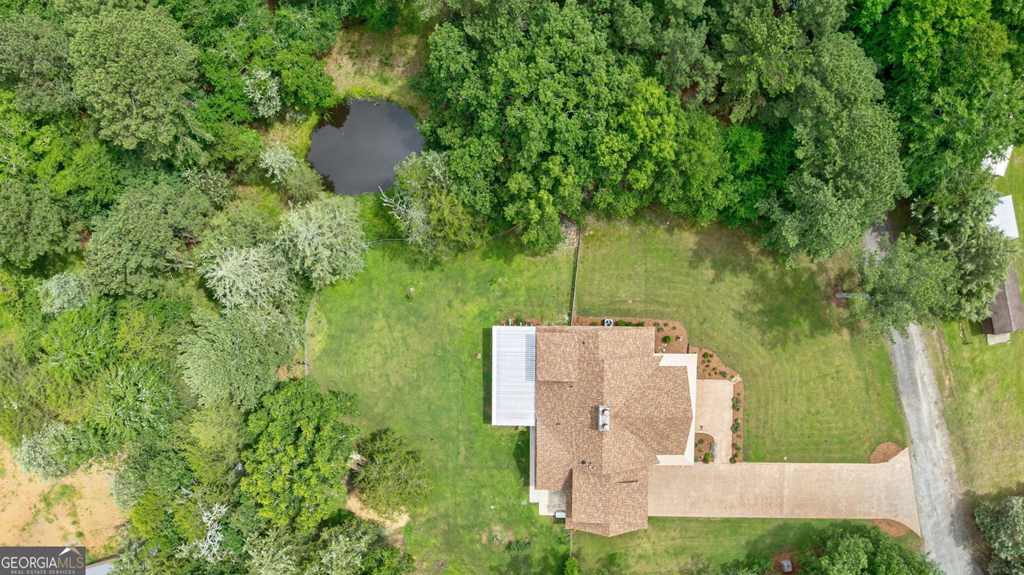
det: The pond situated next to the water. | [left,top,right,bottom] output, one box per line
[297,94,428,197]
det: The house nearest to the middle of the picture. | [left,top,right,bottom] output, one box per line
[492,319,697,537]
